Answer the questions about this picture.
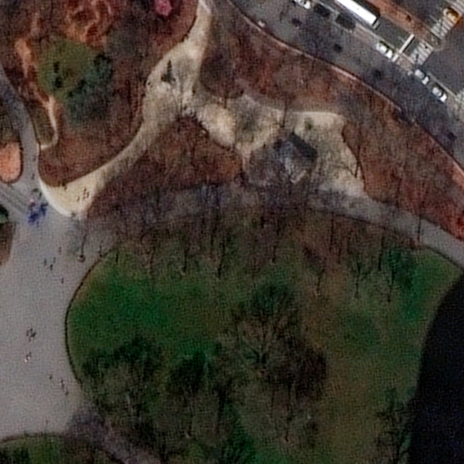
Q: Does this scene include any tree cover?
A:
Yes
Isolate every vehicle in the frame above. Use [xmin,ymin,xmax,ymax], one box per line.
[413,68,431,86]
[338,0,384,25]
[375,41,395,60]
[429,85,449,103]
[441,9,460,26]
